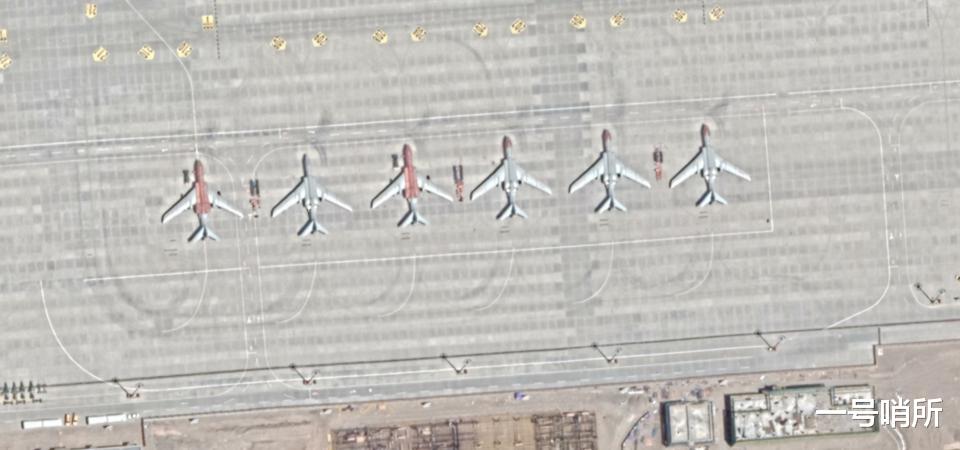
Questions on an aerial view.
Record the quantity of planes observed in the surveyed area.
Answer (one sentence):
Altogether the scene contains 6 planes.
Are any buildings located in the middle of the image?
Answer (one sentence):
No, no building can be made out in the middle of the image.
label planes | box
[163,159,241,242]
[570,129,648,211]
[670,124,747,205]
[471,135,548,218]
[270,154,348,236]
[372,144,450,226]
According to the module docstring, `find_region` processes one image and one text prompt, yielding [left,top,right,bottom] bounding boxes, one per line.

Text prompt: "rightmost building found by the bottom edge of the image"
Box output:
[727,387,878,446]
